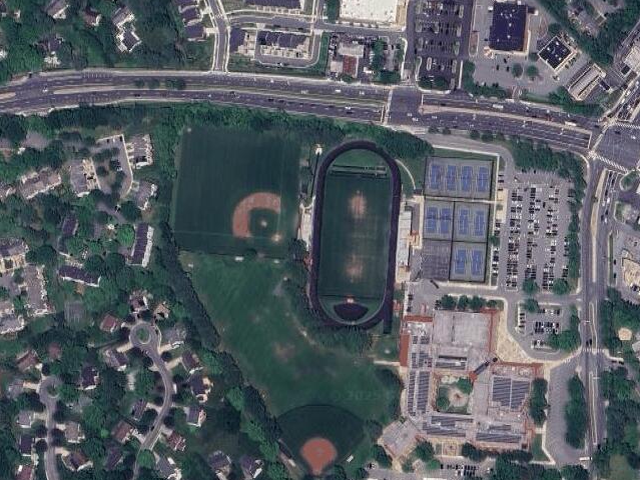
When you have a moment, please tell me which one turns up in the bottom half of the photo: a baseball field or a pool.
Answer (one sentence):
You can see a baseball field in the bottom half of the photo.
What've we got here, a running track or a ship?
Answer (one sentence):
I can see a running track in this picture.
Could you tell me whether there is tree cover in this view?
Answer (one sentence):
Yes, there is tree cover in the image.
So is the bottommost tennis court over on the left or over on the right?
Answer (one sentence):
The bottommost tennis court sits on the left side.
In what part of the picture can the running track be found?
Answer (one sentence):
The running track is located in the center region of the scene.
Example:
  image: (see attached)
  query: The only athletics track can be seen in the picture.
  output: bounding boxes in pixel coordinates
[309,139,401,331]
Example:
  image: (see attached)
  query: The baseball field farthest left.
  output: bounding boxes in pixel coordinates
[175,128,303,258]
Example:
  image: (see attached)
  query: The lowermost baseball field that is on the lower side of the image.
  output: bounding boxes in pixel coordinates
[281,405,364,475]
